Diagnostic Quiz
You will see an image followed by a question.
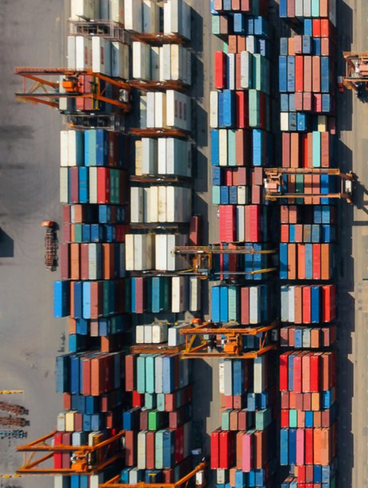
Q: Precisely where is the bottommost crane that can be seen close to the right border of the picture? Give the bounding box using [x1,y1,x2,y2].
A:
[256,165,360,207]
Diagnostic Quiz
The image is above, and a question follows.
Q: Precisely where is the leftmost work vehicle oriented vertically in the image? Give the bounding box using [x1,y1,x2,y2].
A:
[38,219,54,270]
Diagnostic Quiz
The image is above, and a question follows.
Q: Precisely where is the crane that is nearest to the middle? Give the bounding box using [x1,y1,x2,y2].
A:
[170,243,278,281]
